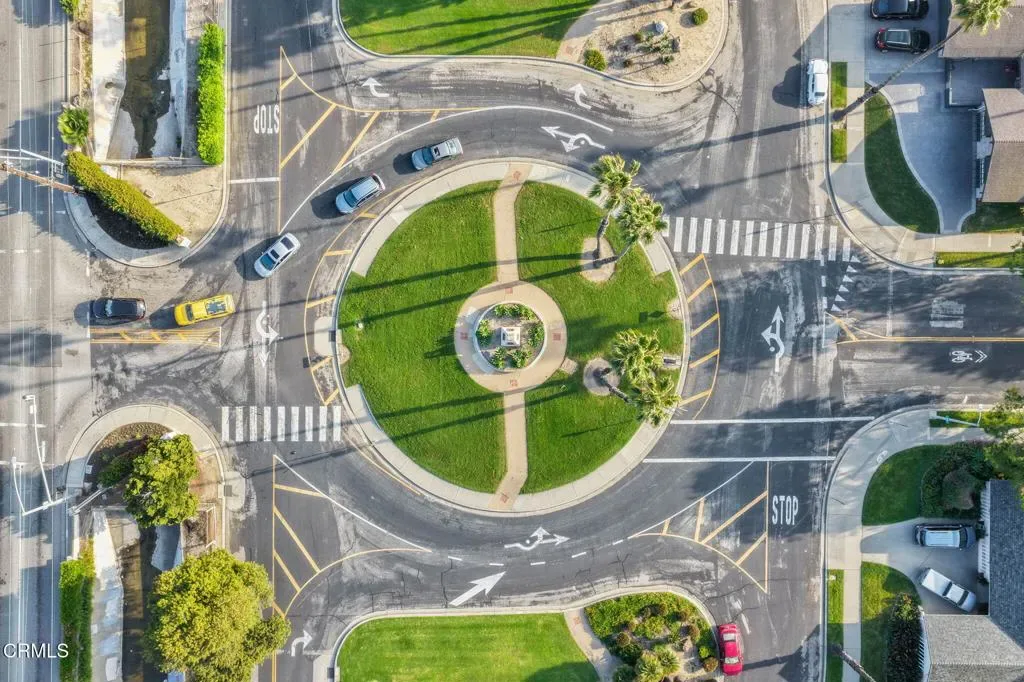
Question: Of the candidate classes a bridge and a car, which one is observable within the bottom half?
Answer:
car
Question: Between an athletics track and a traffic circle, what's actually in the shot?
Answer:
traffic circle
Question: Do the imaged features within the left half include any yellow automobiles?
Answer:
Yes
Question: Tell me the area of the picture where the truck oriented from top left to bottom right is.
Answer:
bottom right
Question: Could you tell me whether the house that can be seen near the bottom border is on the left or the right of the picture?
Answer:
right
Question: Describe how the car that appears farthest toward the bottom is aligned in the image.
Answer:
vertically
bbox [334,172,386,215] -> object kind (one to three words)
car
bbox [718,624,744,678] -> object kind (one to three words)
car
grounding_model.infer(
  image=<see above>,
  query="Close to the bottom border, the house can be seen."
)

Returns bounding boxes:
[926,479,1024,682]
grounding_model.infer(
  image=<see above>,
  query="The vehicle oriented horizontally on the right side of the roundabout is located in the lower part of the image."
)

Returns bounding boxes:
[914,525,973,551]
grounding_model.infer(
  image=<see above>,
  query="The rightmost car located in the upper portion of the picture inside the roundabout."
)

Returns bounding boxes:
[408,137,465,169]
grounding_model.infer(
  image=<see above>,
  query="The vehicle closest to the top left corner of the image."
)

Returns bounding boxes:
[88,296,144,321]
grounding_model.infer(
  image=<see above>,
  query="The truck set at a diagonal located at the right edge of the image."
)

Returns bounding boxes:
[918,567,975,613]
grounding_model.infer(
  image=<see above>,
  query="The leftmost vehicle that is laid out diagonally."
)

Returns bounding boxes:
[252,231,300,279]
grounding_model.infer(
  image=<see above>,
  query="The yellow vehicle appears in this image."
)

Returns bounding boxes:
[173,295,235,326]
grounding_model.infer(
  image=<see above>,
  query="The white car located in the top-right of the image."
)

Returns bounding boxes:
[807,54,834,107]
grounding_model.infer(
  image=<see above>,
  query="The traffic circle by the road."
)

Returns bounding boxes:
[286,113,735,562]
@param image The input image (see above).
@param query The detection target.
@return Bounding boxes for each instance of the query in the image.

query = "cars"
[807,54,834,107]
[914,525,973,551]
[871,0,930,19]
[173,295,235,326]
[88,296,144,321]
[252,231,300,279]
[718,624,744,678]
[334,172,386,215]
[408,137,465,169]
[876,24,930,50]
